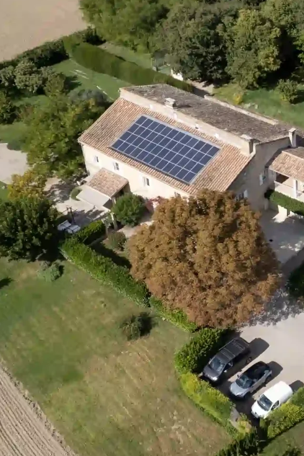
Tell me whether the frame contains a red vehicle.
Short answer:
No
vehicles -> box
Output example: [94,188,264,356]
[230,365,275,402]
[248,381,294,421]
[202,341,253,385]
